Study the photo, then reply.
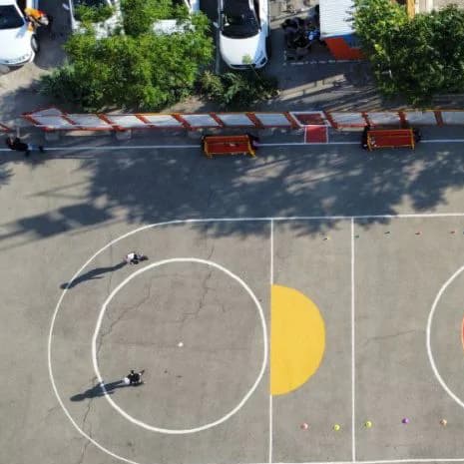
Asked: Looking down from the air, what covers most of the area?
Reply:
paved ground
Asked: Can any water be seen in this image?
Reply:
No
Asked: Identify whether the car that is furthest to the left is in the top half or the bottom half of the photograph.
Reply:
top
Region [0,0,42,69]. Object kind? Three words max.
car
